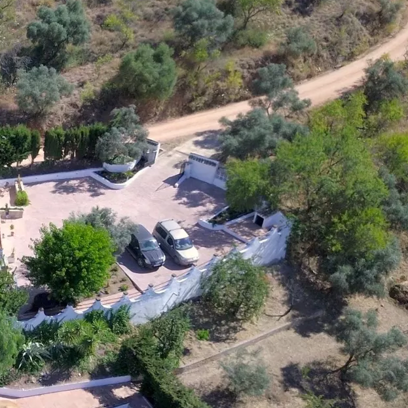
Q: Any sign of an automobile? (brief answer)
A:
Yes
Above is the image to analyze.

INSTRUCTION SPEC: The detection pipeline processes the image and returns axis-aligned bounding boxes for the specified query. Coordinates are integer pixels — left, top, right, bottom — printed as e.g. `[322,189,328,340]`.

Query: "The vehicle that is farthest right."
[157,220,198,262]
